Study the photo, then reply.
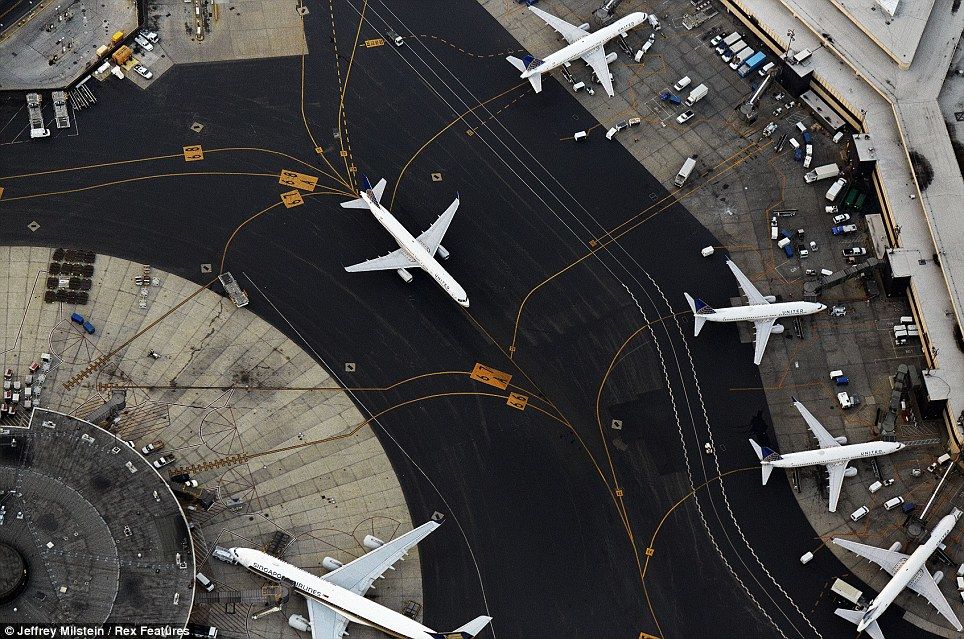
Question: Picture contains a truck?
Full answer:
Yes, this view includes a truck.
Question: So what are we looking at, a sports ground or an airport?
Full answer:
This looks like an airport.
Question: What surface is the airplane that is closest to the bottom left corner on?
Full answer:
You can see the airplane that is closest to the bottom left corner positioned on the apron.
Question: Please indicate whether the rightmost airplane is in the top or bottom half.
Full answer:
You can find the rightmost airplane in the bottom half.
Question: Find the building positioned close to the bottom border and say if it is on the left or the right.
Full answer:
You can find the building positioned close to the bottom border on the left side of the picture.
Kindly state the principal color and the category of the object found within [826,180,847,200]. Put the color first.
white vehicle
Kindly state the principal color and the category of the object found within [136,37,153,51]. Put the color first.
white car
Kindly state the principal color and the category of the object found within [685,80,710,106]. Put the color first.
white truck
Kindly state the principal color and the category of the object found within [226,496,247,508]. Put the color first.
gray vehicle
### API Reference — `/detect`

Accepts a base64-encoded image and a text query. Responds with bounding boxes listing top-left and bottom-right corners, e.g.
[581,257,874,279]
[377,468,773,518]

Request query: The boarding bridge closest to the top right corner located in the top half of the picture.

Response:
[735,66,785,122]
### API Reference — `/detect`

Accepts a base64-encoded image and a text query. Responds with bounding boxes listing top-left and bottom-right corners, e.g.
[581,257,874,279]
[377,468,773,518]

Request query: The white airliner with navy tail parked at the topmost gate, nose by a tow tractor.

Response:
[506,8,648,95]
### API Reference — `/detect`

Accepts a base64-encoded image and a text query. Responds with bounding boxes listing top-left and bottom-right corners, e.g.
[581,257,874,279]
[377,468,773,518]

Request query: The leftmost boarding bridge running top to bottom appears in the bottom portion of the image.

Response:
[874,361,910,446]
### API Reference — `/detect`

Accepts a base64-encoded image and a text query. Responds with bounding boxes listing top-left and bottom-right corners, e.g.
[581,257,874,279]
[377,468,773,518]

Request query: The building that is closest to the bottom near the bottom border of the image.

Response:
[0,407,192,639]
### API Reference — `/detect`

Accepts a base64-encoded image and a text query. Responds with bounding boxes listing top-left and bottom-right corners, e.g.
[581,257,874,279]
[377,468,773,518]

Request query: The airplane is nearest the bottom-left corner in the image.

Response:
[229,514,489,639]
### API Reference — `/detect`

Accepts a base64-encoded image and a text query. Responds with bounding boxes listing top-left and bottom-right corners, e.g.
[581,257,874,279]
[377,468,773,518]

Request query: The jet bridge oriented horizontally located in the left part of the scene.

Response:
[193,582,291,619]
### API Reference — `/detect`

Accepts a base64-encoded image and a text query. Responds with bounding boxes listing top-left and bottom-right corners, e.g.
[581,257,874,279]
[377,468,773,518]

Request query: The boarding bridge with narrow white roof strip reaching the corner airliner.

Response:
[906,455,958,540]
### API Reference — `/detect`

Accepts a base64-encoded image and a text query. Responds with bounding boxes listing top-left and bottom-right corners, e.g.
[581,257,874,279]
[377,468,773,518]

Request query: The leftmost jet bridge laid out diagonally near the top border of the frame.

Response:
[587,0,627,32]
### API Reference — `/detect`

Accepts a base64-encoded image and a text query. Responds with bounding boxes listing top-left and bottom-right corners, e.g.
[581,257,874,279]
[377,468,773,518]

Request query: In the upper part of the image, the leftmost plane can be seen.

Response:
[341,174,471,307]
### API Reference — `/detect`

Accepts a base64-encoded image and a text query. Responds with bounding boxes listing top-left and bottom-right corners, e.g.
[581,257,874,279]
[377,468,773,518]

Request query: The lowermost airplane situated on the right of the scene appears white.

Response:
[832,513,962,639]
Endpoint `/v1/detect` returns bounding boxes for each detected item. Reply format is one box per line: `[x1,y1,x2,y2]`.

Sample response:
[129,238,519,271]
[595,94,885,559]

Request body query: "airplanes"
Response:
[229,514,489,639]
[684,254,829,365]
[832,513,962,639]
[341,174,471,307]
[506,8,648,95]
[752,394,902,513]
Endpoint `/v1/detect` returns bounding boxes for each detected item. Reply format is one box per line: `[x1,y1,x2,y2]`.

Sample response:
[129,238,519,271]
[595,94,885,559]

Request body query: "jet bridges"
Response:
[587,0,627,32]
[804,254,887,300]
[176,481,217,521]
[193,582,291,619]
[874,361,910,446]
[906,455,958,540]
[735,66,785,122]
